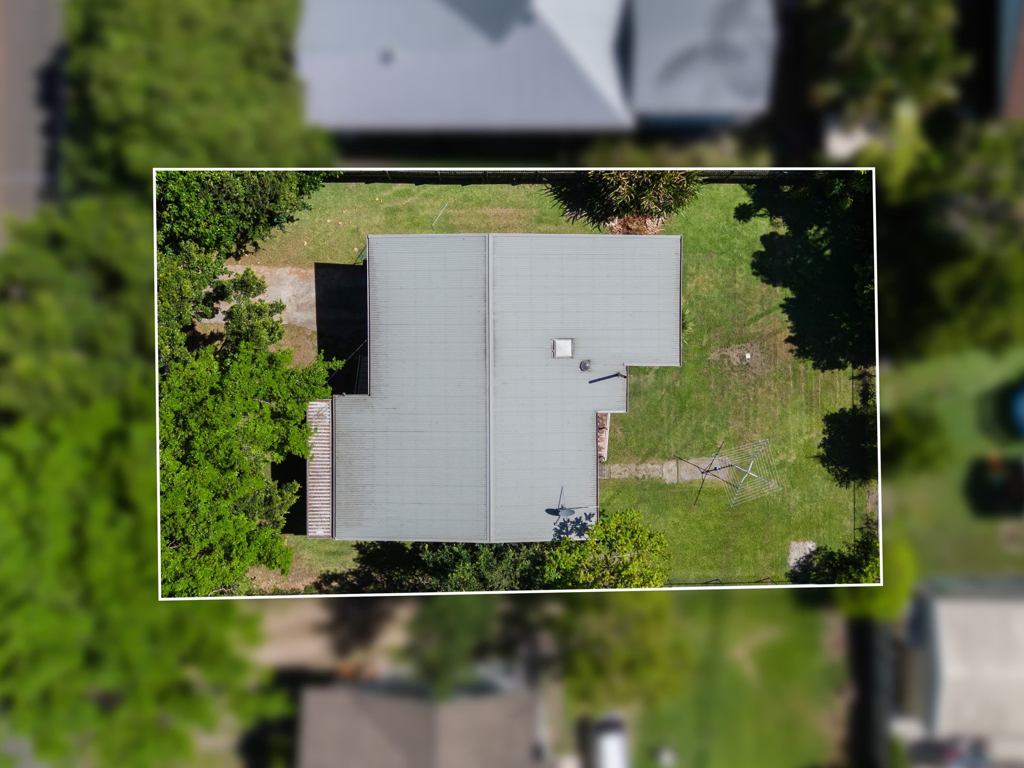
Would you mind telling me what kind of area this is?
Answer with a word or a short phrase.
residential area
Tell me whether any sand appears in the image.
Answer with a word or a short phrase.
No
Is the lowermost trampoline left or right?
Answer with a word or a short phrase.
right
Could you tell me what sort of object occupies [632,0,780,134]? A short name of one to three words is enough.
house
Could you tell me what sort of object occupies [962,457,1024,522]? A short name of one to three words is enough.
trampoline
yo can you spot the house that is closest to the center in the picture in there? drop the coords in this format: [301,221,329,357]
[305,232,685,543]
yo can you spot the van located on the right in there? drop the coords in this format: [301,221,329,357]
[592,737,638,768]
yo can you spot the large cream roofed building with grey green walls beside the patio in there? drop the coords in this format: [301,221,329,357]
[894,582,1024,746]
